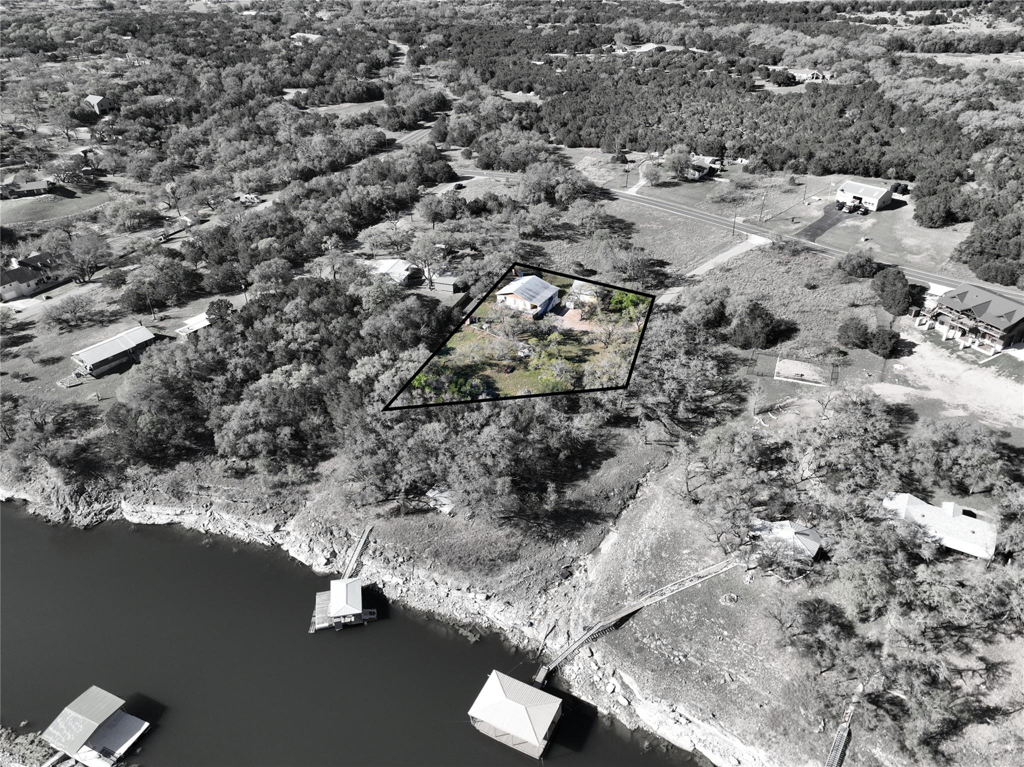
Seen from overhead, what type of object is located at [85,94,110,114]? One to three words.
barn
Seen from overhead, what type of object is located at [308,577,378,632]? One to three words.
building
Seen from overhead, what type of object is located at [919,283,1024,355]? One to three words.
building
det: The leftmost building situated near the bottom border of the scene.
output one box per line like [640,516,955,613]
[40,690,154,767]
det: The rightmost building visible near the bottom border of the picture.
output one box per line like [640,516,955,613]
[467,670,560,764]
